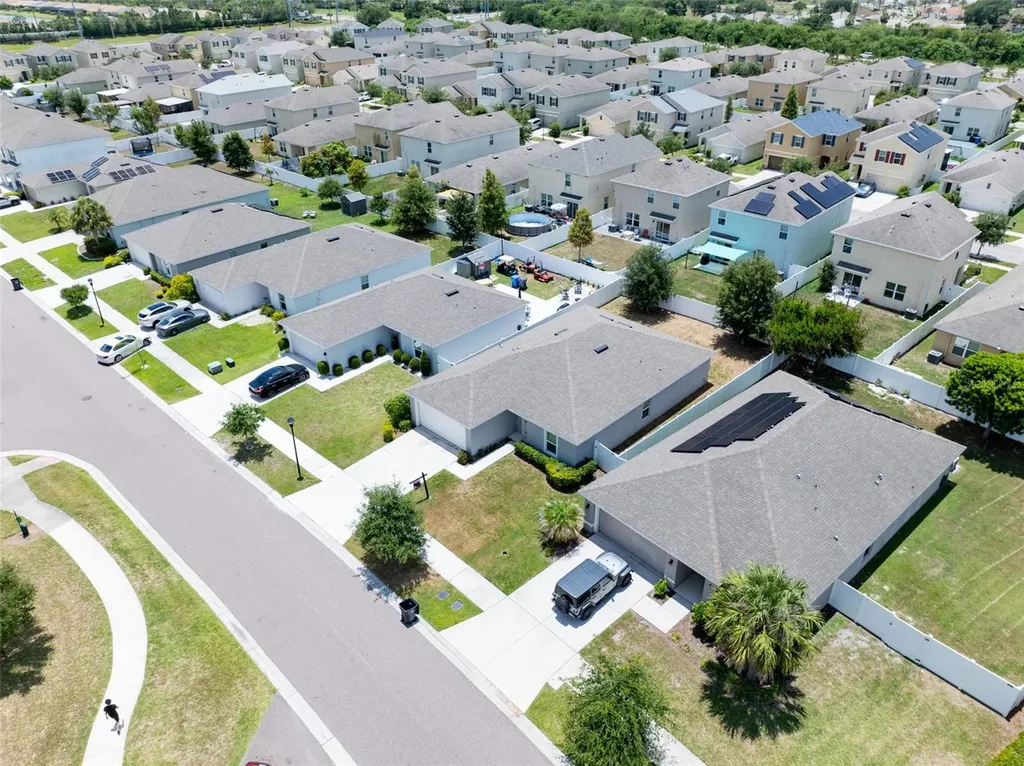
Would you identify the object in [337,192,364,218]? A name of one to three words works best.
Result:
shed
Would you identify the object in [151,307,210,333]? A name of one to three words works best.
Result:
car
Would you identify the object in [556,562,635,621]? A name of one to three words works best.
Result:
car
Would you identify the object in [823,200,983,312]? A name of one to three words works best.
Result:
house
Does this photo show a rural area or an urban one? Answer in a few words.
urban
